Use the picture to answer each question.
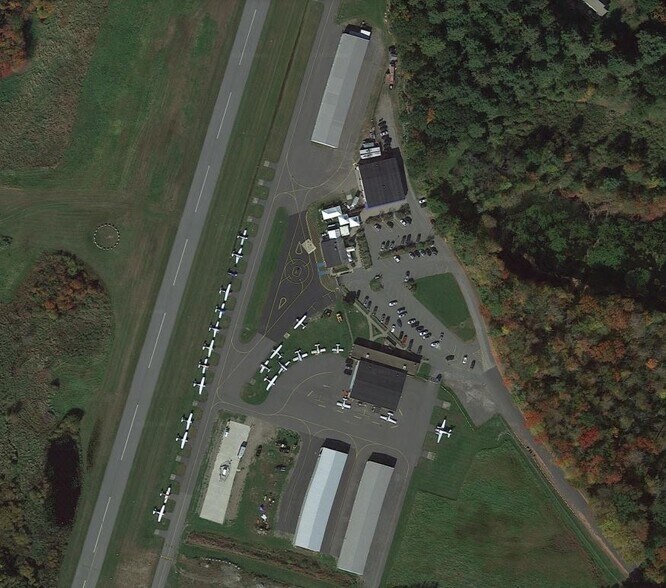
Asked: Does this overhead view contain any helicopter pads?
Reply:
Yes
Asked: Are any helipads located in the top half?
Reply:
No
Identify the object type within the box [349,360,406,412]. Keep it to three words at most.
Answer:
hangar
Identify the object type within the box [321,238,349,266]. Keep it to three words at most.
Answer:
building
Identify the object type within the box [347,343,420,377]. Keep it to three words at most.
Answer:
building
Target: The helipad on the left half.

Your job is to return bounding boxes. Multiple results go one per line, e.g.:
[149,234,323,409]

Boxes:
[200,421,250,524]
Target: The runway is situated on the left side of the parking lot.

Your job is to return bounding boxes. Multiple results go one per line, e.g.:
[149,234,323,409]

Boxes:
[71,0,271,588]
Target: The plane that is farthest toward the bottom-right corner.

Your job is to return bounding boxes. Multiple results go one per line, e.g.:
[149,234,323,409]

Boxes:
[435,420,454,443]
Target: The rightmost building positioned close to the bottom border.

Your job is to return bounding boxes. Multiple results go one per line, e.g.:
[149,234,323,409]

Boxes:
[337,461,394,575]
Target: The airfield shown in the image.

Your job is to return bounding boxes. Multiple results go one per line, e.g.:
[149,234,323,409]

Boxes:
[71,0,450,588]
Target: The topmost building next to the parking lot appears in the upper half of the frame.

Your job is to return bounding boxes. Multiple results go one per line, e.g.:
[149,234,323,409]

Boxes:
[311,30,369,148]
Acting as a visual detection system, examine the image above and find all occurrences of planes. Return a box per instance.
[226,268,236,280]
[278,360,290,373]
[232,248,243,263]
[220,284,232,301]
[176,431,188,449]
[311,344,326,355]
[264,375,277,390]
[153,505,165,522]
[203,340,215,356]
[271,345,284,358]
[260,360,272,373]
[194,377,206,394]
[337,398,351,409]
[294,315,307,329]
[159,488,171,503]
[181,413,193,430]
[198,358,209,373]
[209,322,220,337]
[380,412,397,423]
[435,420,454,443]
[332,344,343,354]
[215,303,225,318]
[293,350,308,361]
[237,230,248,245]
